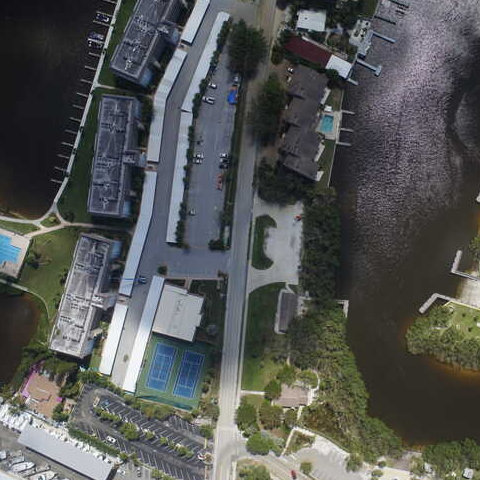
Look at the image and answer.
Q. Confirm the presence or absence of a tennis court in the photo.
Yes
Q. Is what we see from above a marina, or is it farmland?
marina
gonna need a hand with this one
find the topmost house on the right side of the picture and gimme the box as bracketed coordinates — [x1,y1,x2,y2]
[298,9,327,34]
